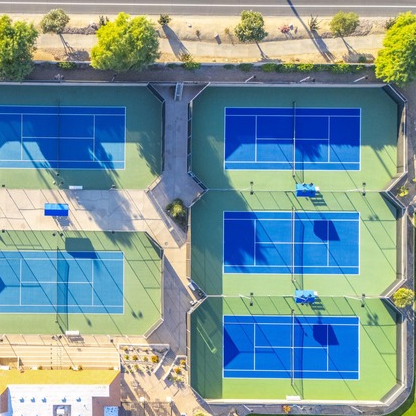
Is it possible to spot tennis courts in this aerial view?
Yes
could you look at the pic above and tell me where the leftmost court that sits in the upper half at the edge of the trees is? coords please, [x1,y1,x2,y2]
[0,85,162,189]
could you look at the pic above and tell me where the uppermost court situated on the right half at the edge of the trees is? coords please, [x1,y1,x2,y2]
[194,86,397,192]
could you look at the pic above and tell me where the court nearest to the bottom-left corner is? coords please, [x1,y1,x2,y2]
[0,232,161,335]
